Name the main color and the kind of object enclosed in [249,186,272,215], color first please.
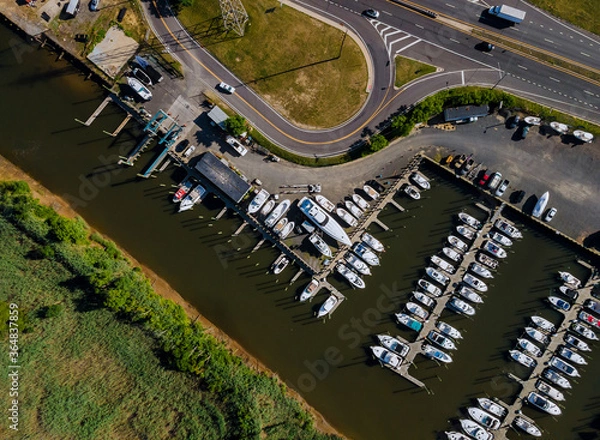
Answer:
white boat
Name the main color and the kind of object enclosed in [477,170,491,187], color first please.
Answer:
red vehicle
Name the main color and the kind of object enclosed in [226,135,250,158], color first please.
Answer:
white boat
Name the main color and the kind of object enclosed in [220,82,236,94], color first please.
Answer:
white vehicle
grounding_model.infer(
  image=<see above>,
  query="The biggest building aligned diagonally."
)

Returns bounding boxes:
[195,150,251,203]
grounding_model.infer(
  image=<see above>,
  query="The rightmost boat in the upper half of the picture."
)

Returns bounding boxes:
[568,131,596,144]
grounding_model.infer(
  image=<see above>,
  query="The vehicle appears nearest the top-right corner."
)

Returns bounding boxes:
[487,5,527,24]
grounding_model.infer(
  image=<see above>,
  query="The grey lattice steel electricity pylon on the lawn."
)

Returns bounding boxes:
[217,0,250,37]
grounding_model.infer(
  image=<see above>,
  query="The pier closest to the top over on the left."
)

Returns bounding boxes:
[74,90,146,137]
